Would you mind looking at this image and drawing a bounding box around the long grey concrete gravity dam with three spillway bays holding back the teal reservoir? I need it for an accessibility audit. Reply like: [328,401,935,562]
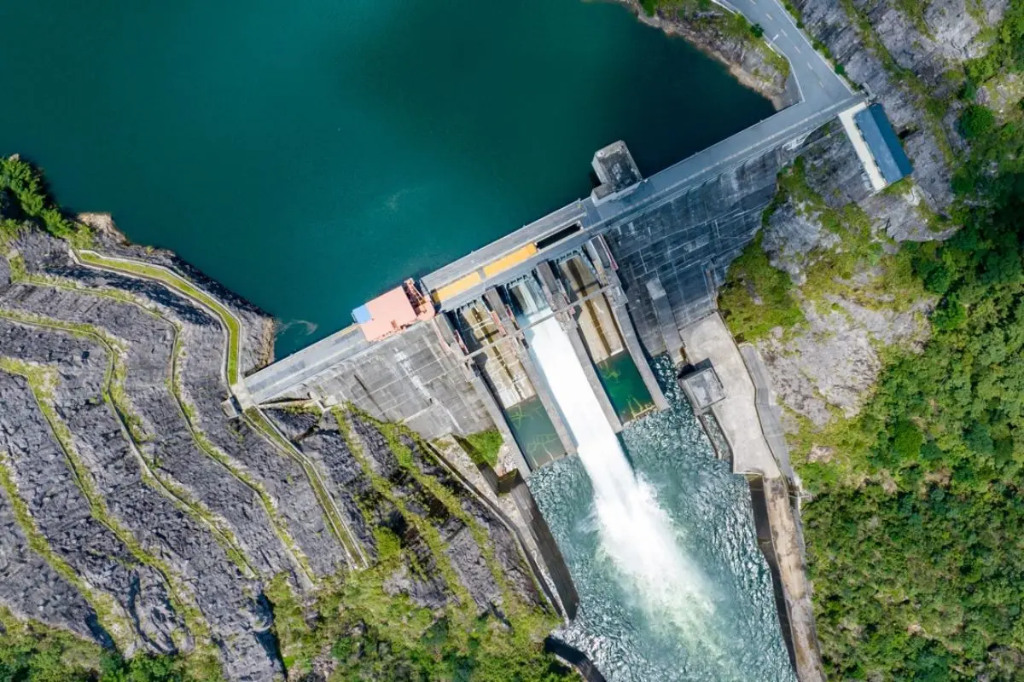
[243,84,850,479]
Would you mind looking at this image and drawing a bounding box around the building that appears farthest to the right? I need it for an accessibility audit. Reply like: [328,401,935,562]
[853,106,913,185]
